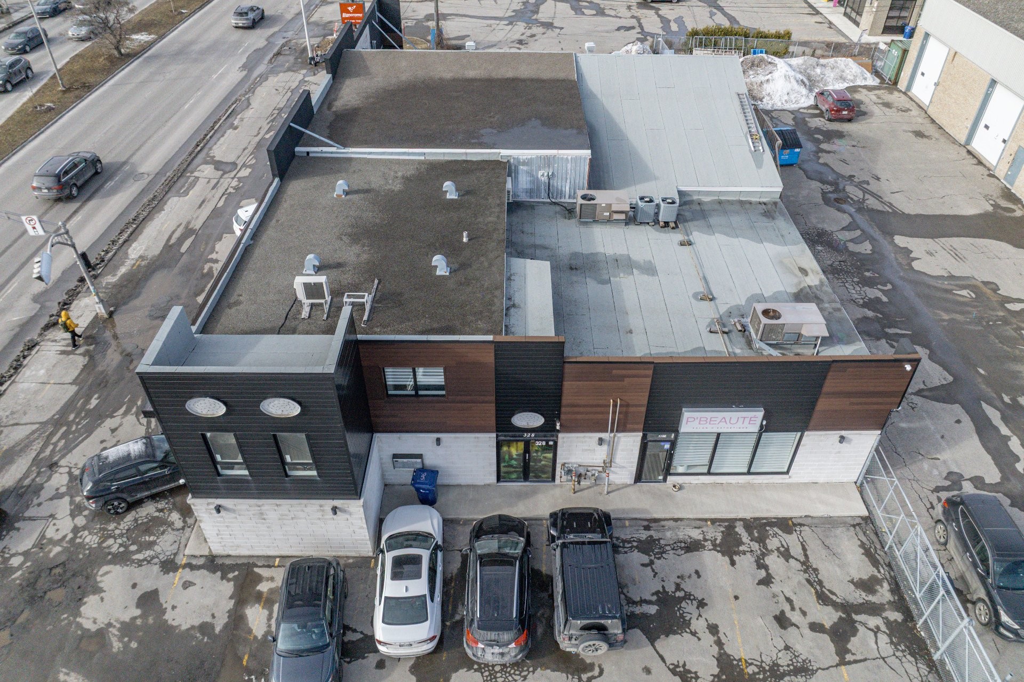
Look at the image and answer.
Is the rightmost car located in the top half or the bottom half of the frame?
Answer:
bottom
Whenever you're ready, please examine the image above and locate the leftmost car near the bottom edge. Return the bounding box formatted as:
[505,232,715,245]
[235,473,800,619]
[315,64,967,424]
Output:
[259,553,353,682]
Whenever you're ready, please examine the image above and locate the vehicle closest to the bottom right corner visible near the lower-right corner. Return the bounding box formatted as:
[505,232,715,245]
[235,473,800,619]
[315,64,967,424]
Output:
[935,489,1024,654]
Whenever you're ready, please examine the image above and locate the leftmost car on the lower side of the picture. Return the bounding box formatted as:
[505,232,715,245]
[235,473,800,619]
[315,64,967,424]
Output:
[71,430,178,514]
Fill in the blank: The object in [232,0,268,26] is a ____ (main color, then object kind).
gray car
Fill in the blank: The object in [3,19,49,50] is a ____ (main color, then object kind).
gray car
